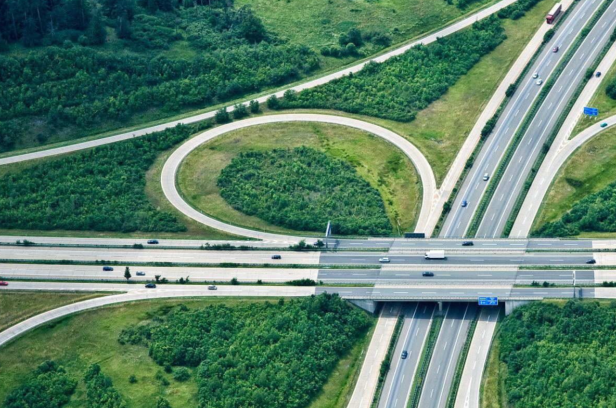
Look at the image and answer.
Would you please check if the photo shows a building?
No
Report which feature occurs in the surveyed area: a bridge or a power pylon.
bridge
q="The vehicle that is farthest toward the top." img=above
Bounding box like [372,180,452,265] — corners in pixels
[546,4,561,24]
